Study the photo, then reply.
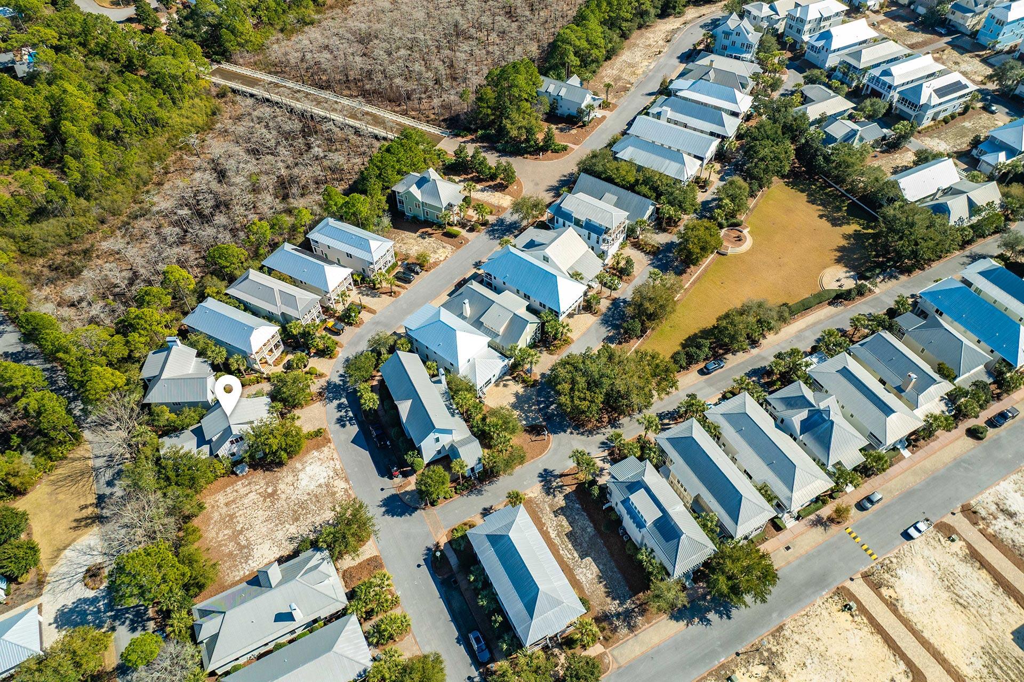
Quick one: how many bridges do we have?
1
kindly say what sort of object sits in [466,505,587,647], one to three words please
house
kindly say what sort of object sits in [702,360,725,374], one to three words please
car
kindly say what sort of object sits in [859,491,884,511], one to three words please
car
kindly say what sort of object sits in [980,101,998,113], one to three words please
vehicle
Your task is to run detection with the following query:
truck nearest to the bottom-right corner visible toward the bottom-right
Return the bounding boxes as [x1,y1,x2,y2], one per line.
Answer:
[903,519,937,542]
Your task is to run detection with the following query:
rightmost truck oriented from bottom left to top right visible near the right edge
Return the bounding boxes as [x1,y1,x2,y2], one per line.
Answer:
[992,404,1019,426]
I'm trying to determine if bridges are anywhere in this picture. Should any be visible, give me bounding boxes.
[197,58,455,154]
